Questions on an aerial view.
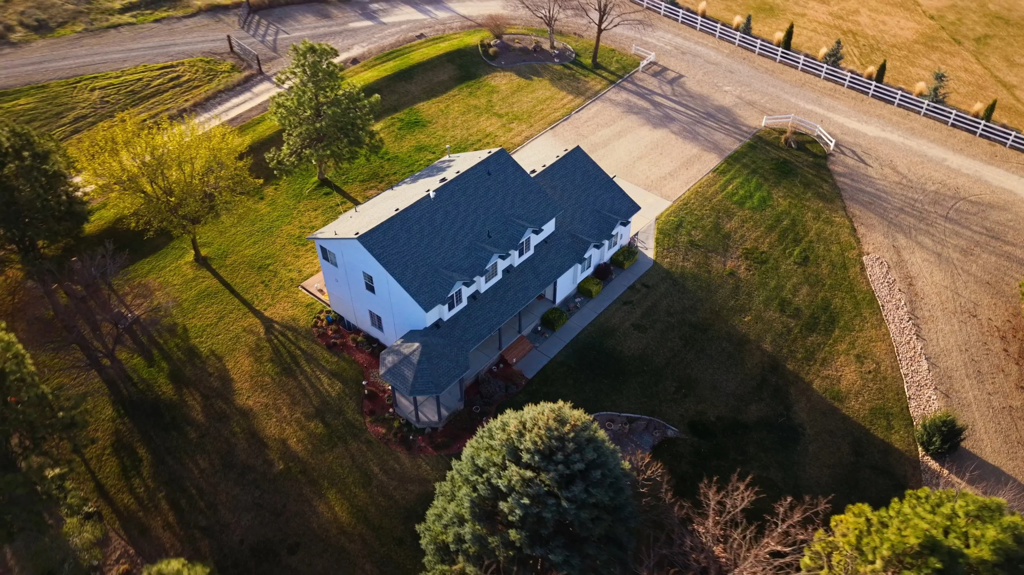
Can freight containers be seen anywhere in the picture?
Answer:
No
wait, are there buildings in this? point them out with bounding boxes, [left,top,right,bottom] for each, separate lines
[297,139,642,430]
